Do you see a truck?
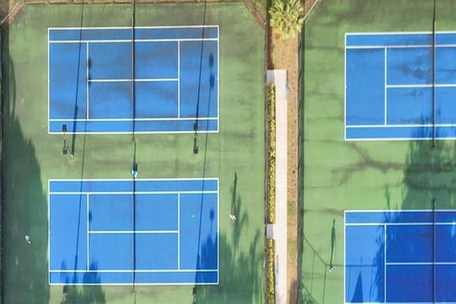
No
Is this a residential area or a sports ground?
sports ground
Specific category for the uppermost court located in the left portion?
tennis court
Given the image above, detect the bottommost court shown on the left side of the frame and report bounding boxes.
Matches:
[1,155,266,304]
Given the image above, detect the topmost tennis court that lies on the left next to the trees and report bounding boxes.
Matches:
[1,2,266,155]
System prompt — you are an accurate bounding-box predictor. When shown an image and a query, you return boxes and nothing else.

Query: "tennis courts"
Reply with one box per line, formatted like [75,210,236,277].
[1,2,266,155]
[302,174,456,304]
[1,155,266,304]
[302,0,456,174]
